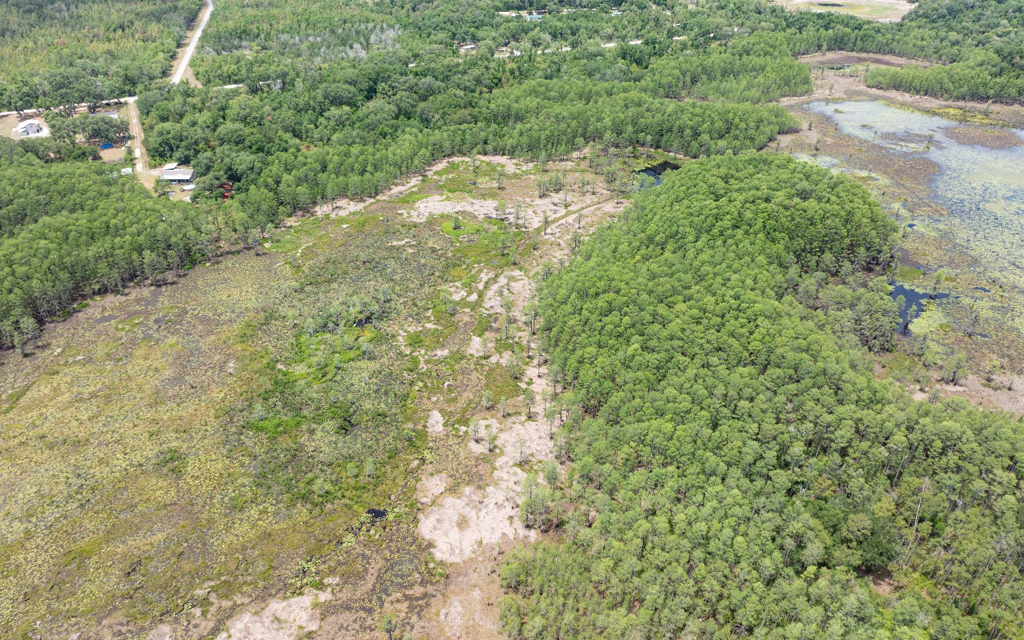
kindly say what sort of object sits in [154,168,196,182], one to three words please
house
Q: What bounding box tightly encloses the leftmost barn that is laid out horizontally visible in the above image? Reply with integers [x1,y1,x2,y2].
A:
[11,121,44,135]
